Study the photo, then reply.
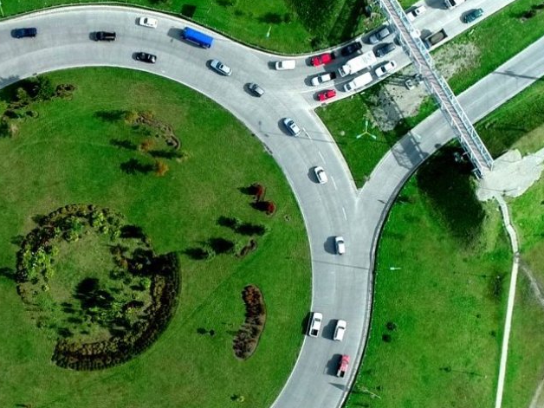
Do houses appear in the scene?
No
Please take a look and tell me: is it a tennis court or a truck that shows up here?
truck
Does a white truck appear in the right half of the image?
Yes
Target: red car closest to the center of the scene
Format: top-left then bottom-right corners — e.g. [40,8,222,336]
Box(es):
[316,89,338,102]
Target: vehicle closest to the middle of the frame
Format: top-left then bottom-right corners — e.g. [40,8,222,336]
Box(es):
[314,165,328,185]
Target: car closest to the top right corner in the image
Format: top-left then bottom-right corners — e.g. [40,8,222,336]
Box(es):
[461,6,485,25]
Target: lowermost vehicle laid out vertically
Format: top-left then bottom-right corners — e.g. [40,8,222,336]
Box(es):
[337,353,350,377]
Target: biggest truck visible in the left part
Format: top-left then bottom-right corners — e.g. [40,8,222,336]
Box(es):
[181,27,216,48]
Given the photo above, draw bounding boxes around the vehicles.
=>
[181,27,216,48]
[95,31,116,41]
[404,4,428,23]
[210,59,232,77]
[314,165,328,185]
[342,69,376,94]
[337,47,382,79]
[275,59,297,71]
[337,353,350,377]
[14,27,38,38]
[374,61,397,78]
[334,235,344,254]
[316,89,338,102]
[309,311,320,337]
[246,82,264,97]
[311,71,334,86]
[284,117,299,136]
[135,53,157,63]
[461,6,485,25]
[368,26,391,44]
[138,16,157,28]
[341,41,363,57]
[333,319,345,341]
[420,27,453,52]
[311,53,334,67]
[377,41,397,57]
